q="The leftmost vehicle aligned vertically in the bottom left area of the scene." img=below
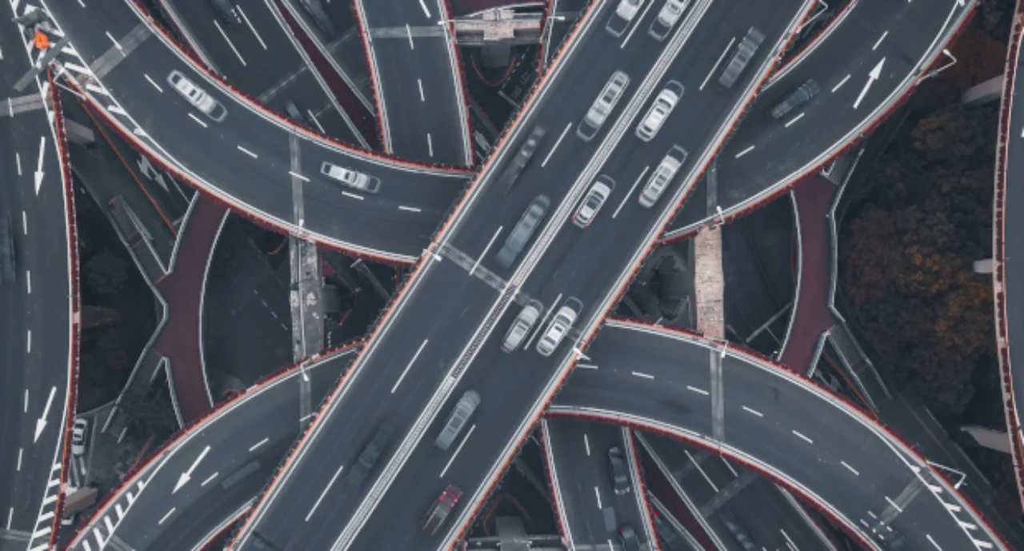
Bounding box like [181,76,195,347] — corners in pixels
[76,418,93,454]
